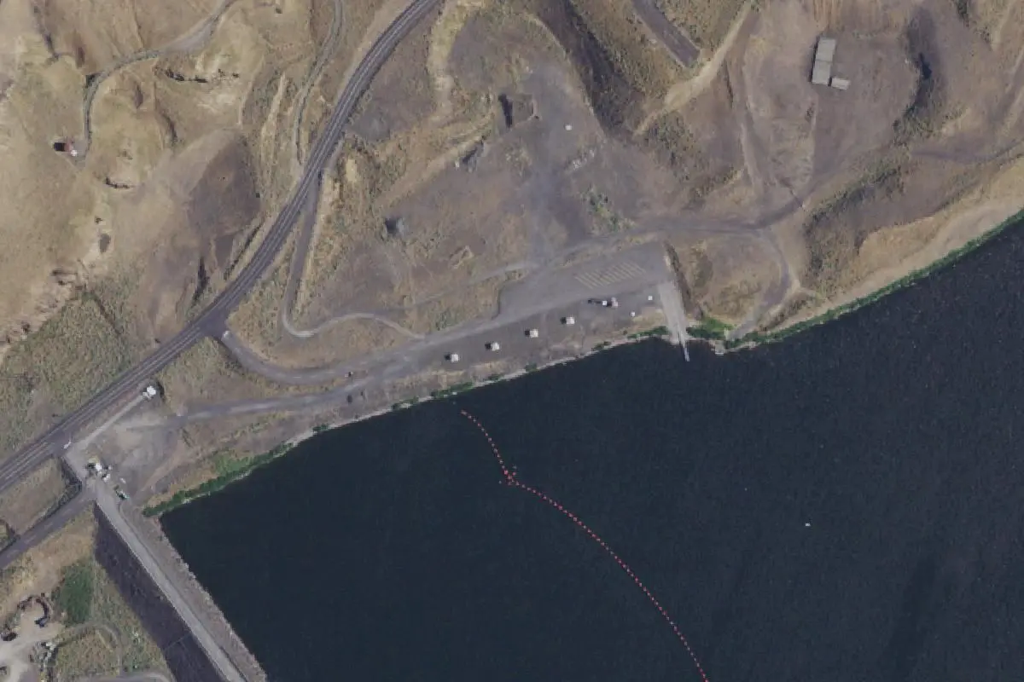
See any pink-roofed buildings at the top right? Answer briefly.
No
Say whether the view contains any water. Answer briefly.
Yes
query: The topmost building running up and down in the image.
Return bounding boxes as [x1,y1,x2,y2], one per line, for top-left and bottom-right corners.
[813,36,837,84]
